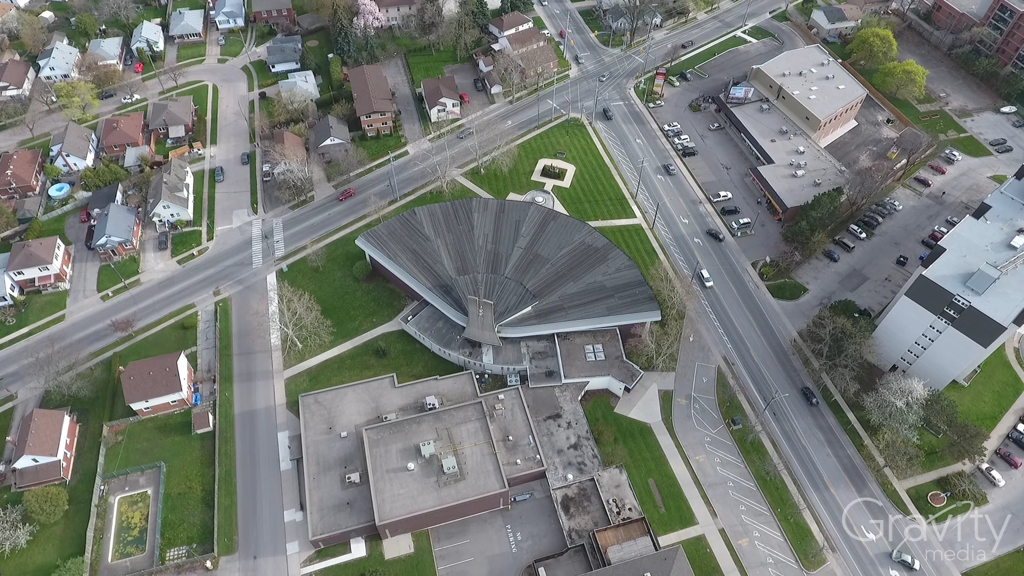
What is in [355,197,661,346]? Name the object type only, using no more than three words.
church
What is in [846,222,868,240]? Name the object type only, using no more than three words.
car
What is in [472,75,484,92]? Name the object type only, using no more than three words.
vehicle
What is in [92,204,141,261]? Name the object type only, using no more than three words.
house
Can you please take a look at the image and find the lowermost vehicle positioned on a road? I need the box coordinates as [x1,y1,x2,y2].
[890,550,921,573]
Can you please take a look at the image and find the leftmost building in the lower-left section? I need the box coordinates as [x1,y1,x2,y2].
[11,408,73,486]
